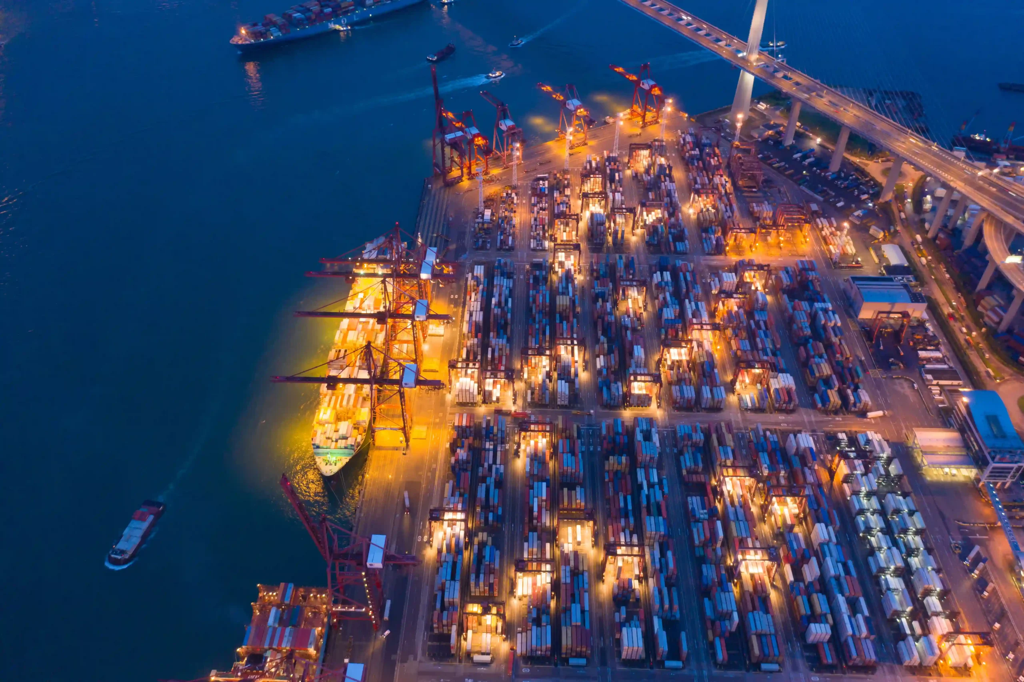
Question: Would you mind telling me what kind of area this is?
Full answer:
The area seen from above is a port.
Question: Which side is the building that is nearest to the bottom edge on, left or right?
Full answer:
It is on the right.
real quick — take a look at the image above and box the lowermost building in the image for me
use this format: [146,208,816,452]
[953,390,1024,499]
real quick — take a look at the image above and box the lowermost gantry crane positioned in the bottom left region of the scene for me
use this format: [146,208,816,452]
[149,651,374,682]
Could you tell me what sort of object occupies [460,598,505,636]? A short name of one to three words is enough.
container crane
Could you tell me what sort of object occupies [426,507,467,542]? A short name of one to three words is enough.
container crane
